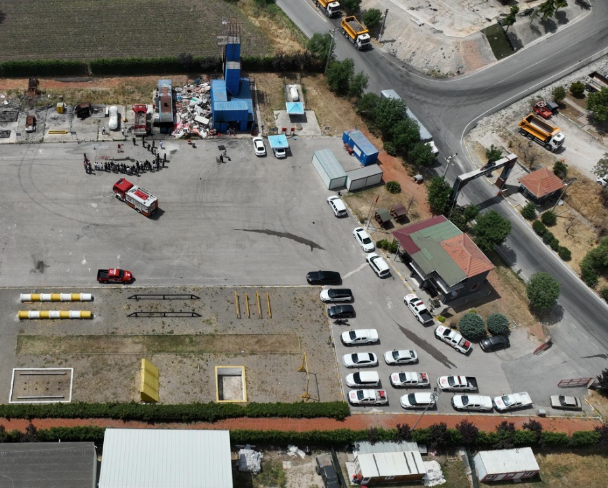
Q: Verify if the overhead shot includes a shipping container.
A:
Yes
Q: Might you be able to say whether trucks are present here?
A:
Yes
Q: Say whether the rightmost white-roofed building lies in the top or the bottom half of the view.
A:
bottom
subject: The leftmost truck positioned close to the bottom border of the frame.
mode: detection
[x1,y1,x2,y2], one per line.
[313,453,341,488]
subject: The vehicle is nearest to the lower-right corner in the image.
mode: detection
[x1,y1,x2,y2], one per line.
[546,397,583,411]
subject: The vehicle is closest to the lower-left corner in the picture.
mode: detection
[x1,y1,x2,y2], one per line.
[98,269,134,285]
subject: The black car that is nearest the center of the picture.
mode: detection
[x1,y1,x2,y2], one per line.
[308,270,341,287]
